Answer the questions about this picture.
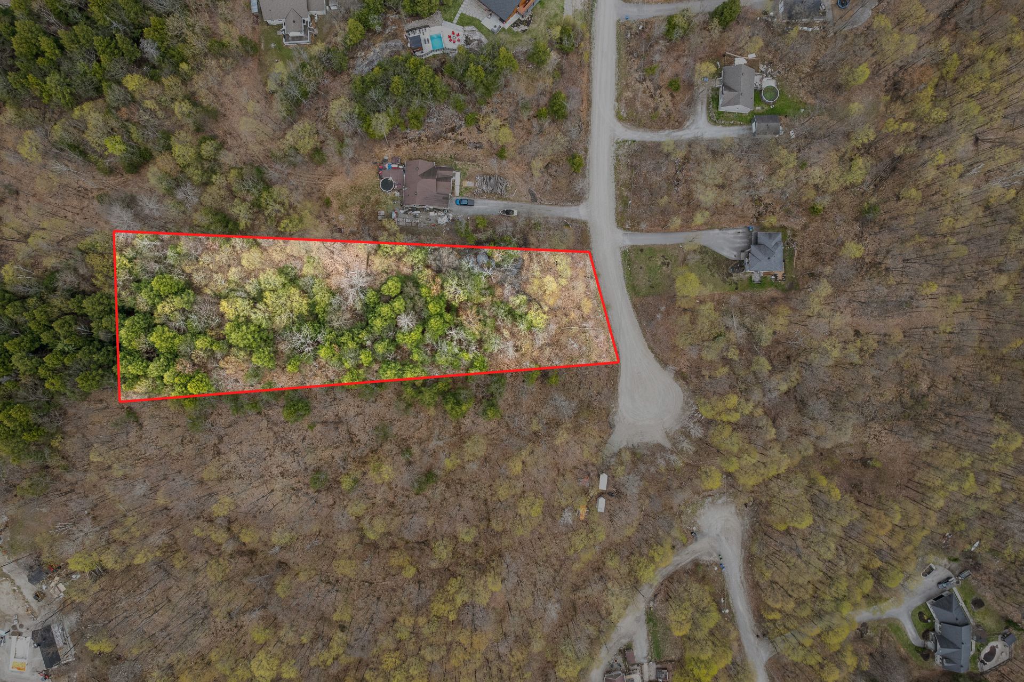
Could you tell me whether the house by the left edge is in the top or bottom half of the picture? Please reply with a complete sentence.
The house by the left edge sits in the bottom half of the picture.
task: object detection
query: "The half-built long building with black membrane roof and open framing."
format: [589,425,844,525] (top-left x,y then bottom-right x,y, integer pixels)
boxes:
[32,615,75,668]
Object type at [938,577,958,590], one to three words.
vehicle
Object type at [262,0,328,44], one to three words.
house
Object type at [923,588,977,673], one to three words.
house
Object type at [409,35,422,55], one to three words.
gazebo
